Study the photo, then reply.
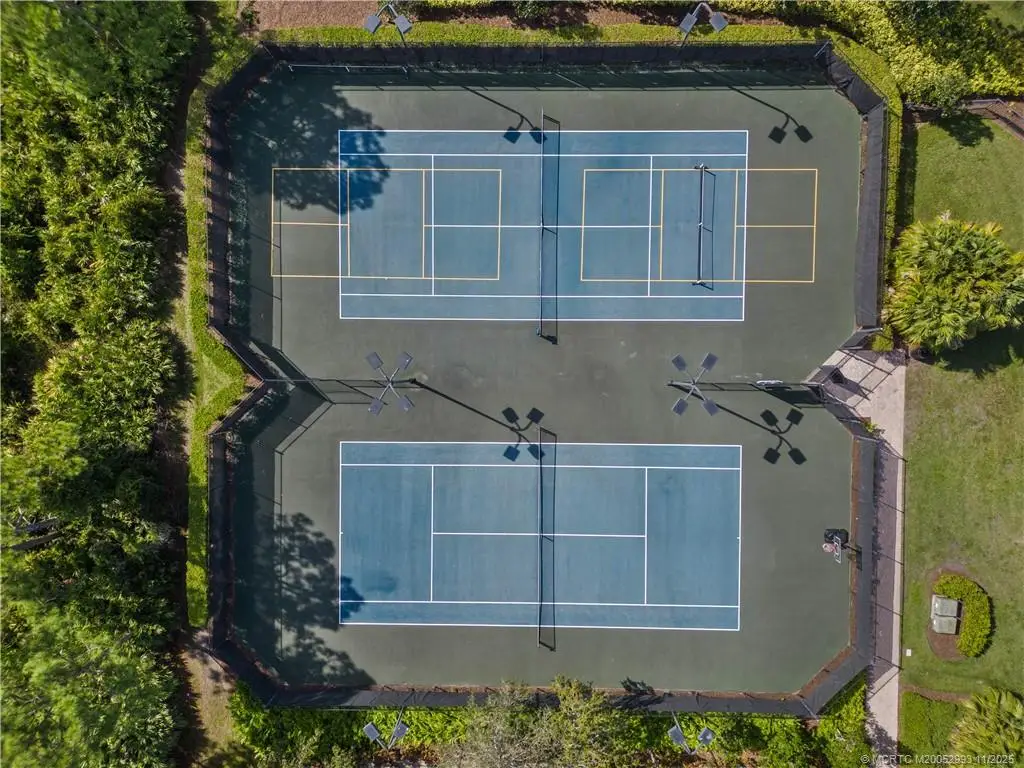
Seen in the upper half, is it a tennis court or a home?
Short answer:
tennis court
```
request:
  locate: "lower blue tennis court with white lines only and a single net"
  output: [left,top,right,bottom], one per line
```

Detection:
[339,441,743,631]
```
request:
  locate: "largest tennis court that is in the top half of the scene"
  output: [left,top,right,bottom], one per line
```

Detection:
[338,130,749,321]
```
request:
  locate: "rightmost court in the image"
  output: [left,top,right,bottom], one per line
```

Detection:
[582,170,817,281]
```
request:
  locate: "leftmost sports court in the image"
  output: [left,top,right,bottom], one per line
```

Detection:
[272,169,500,279]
